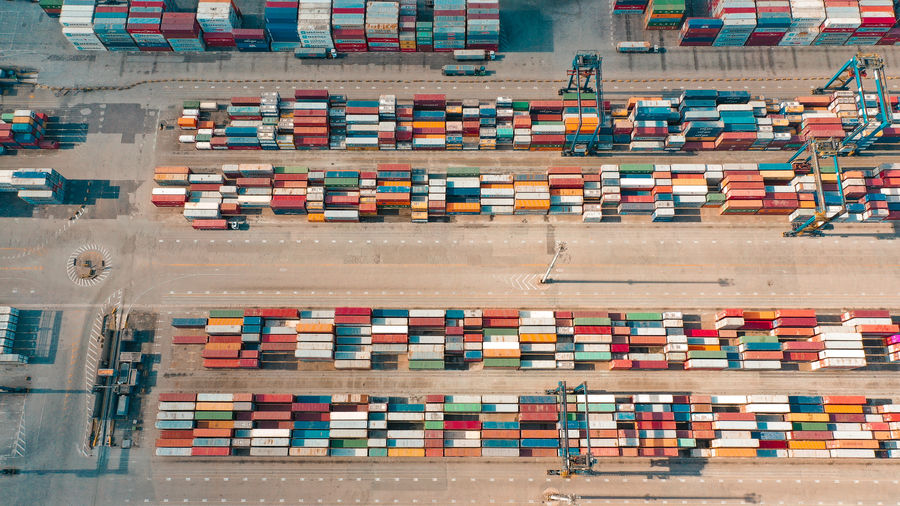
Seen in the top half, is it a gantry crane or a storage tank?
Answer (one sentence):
You can see a gantry crane in the top half.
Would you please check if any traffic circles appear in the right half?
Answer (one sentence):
No, in the right half there is no traffic circle.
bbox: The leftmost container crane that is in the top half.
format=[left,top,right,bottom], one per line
[560,54,603,155]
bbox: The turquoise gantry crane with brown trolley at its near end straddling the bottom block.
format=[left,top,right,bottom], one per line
[546,379,592,475]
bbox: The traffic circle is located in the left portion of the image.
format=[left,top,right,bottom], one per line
[68,243,112,286]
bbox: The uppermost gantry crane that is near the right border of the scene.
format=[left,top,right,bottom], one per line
[821,57,892,155]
